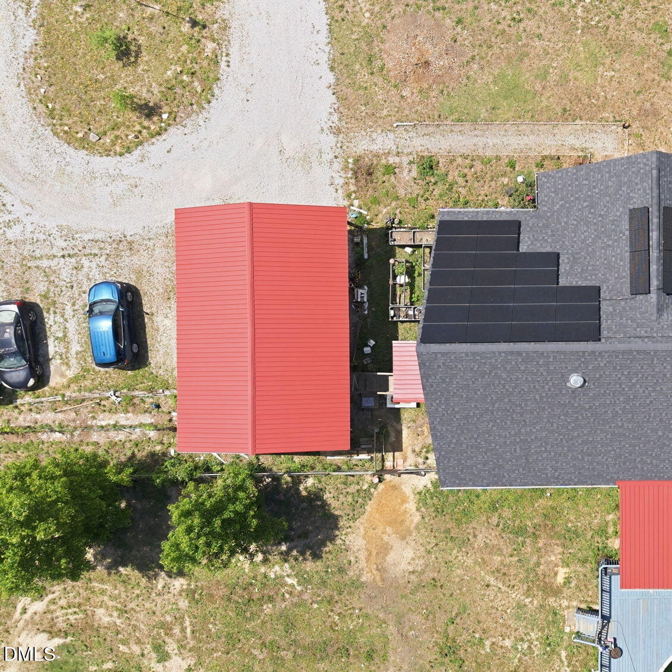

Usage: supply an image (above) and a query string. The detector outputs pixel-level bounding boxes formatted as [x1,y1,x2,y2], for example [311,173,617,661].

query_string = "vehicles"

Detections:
[0,301,46,391]
[83,277,143,372]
